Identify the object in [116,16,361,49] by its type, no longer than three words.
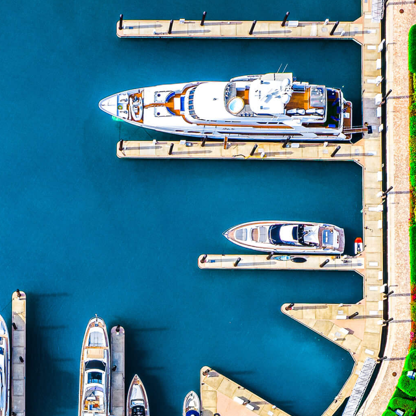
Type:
pier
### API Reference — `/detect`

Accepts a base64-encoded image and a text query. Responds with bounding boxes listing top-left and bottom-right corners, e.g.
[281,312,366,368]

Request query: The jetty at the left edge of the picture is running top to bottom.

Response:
[11,290,26,416]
